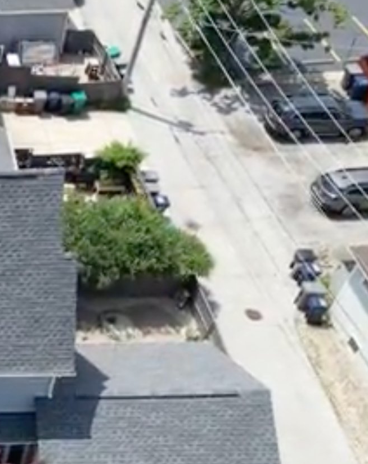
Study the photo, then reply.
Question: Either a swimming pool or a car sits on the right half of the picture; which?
car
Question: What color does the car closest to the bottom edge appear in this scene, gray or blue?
gray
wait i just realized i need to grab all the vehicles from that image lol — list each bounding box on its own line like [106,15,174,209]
[308,171,368,219]
[263,97,368,139]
